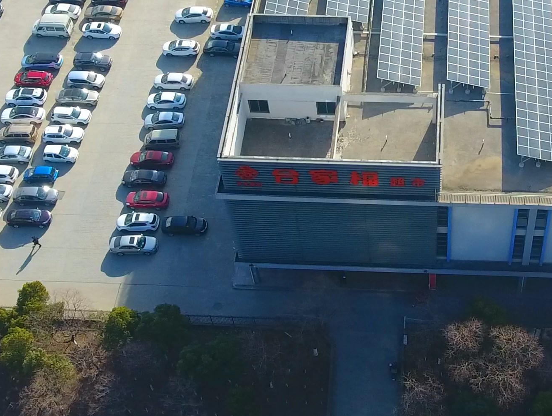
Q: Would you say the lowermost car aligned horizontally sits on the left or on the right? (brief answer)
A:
left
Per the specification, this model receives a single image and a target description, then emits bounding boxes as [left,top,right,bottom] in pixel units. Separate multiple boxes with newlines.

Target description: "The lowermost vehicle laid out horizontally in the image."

[110,232,160,255]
